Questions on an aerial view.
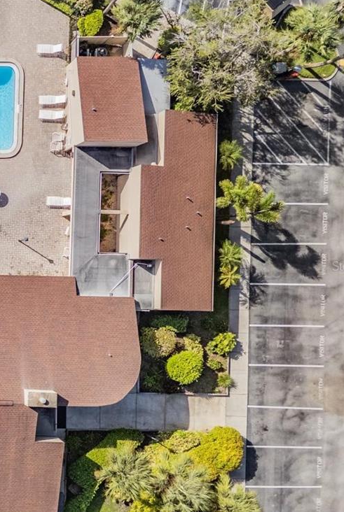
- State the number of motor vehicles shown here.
none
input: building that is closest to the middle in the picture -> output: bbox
[114,109,219,312]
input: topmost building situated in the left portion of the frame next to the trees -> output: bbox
[64,57,148,151]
